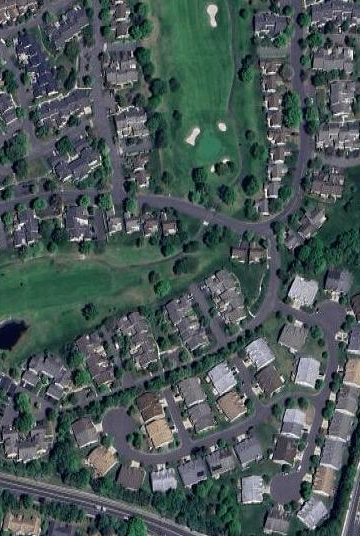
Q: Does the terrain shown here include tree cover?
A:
Yes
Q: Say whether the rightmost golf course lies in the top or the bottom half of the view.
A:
top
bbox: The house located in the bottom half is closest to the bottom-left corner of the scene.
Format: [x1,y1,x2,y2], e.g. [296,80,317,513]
[1,513,41,536]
